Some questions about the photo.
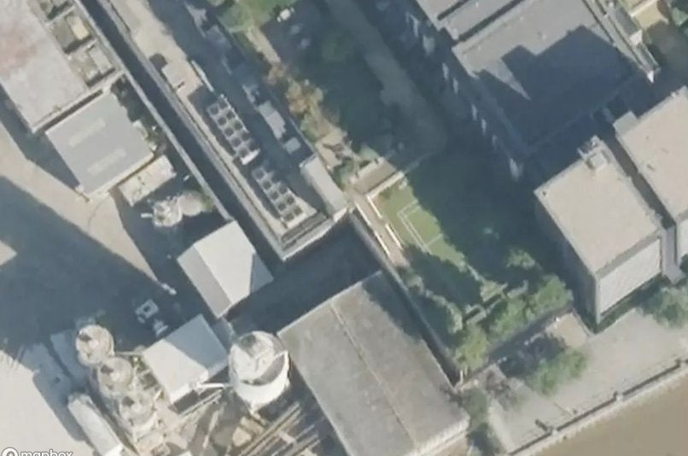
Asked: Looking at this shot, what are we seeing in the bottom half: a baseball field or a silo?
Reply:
silo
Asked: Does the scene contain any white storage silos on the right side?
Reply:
No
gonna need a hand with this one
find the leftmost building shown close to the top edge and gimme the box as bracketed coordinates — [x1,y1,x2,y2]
[0,0,126,144]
